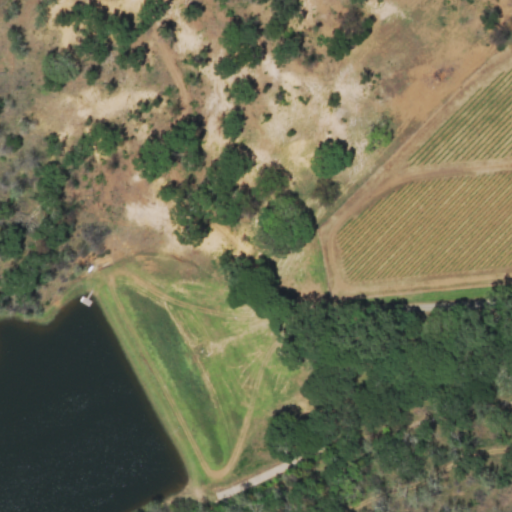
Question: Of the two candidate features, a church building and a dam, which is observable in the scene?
dam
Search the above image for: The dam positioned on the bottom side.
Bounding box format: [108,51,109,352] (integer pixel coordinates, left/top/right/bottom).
[98,280,214,474]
